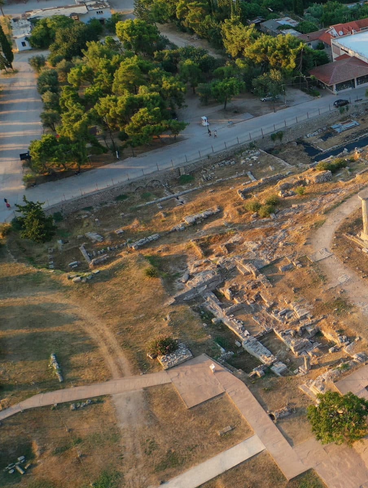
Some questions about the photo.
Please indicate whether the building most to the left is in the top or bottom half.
top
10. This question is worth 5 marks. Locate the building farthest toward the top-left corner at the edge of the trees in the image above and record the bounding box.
[10,16,35,50]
